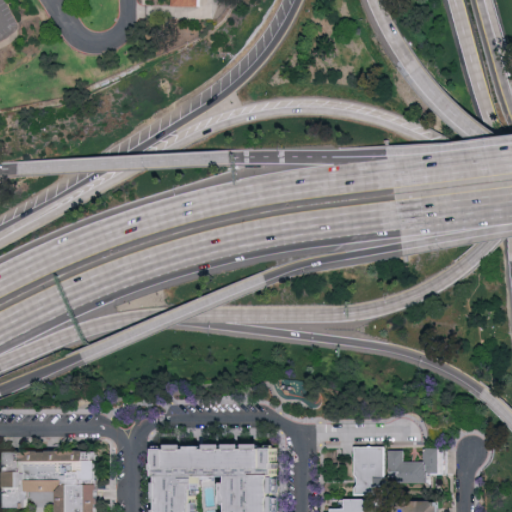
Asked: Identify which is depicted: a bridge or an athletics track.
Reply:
bridge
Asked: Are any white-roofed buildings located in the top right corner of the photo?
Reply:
No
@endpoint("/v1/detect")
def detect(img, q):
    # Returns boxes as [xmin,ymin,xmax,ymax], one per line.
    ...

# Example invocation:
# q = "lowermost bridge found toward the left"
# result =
[82,274,266,364]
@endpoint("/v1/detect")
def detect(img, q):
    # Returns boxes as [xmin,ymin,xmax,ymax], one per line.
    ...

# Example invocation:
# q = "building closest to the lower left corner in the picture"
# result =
[0,452,98,512]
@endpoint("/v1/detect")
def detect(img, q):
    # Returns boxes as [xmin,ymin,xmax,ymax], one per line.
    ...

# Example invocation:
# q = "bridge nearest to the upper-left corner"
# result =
[16,150,229,175]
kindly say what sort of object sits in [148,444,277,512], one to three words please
building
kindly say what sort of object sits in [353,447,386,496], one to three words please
building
